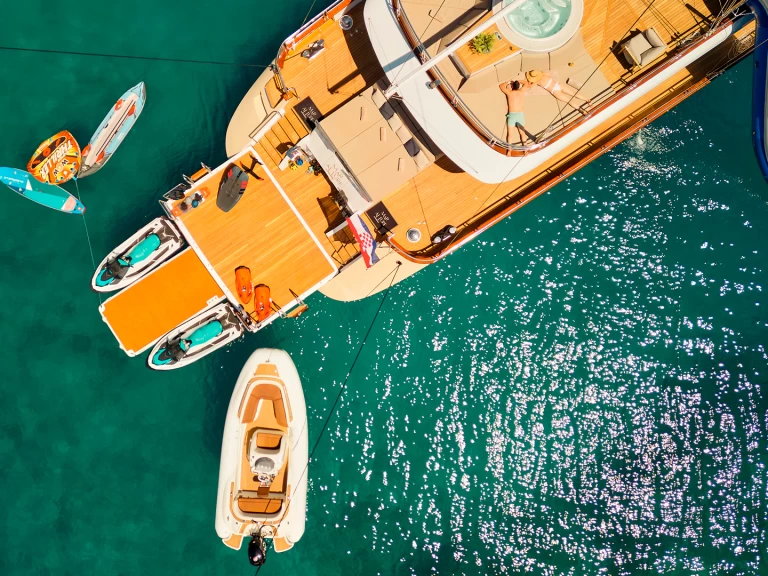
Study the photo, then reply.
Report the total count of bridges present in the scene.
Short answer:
none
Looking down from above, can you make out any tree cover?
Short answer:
No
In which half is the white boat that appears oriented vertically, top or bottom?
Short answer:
bottom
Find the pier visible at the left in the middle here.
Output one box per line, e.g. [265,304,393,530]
[100,248,222,356]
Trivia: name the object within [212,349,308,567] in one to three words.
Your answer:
boat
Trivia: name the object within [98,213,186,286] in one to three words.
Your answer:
boat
